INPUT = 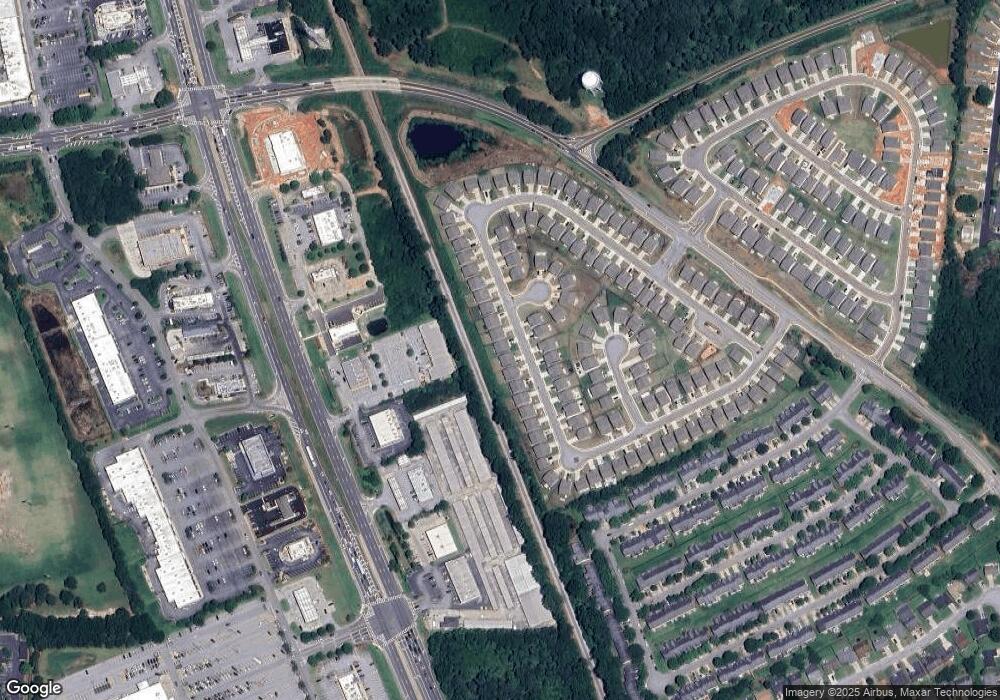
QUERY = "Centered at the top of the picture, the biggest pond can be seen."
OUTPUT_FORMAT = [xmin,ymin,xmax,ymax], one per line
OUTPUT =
[408,121,463,159]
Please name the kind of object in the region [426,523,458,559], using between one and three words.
building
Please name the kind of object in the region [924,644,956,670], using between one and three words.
house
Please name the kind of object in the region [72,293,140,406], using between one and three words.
building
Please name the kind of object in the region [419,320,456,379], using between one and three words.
shed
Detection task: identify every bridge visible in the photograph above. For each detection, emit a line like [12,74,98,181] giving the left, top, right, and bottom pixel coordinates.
[332,75,403,94]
